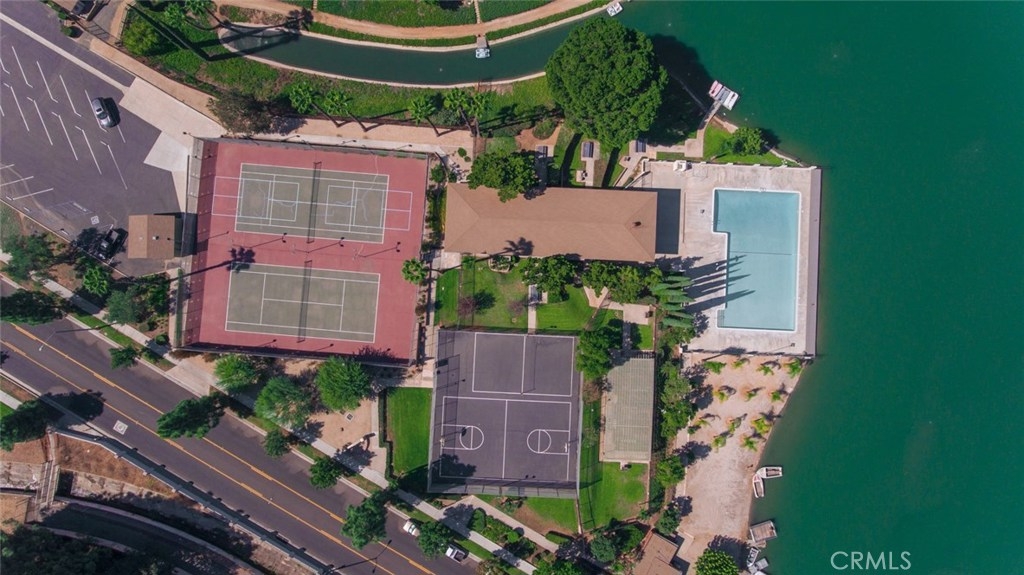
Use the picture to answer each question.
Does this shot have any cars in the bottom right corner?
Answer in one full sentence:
No, looking in the bottom right corner, there is no car.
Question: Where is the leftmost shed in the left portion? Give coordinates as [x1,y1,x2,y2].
[128,215,180,258]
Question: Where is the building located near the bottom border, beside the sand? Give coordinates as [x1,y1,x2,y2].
[624,527,684,575]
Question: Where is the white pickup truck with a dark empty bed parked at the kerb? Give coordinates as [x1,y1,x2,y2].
[449,540,474,567]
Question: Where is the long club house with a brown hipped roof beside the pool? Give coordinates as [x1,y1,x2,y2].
[444,184,657,262]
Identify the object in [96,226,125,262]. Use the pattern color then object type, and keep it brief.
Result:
black truck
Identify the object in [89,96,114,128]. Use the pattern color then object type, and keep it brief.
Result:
gray car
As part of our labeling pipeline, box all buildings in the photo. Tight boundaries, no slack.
[128,215,180,258]
[444,184,657,262]
[624,527,684,575]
